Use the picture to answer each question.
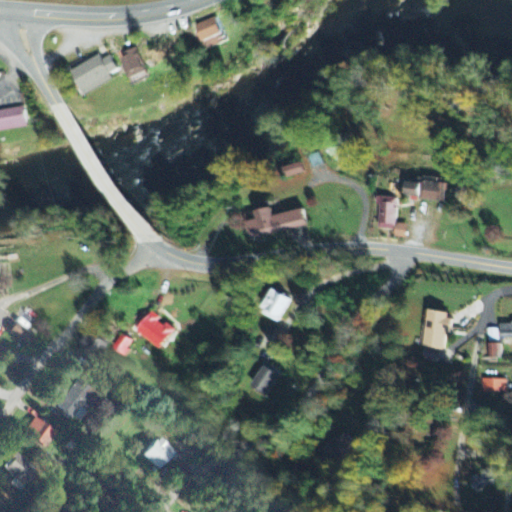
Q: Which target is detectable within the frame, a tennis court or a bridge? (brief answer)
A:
bridge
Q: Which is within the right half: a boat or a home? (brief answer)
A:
home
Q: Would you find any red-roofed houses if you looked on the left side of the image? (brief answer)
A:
Yes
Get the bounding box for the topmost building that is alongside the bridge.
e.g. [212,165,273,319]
[70,48,122,96]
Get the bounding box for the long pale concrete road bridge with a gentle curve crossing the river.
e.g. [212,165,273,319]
[52,100,156,248]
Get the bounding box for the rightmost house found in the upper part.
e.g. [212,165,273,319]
[402,180,446,202]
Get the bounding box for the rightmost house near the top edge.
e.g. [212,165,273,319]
[196,16,228,47]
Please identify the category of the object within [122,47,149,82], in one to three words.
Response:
house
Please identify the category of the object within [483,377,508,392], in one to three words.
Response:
house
